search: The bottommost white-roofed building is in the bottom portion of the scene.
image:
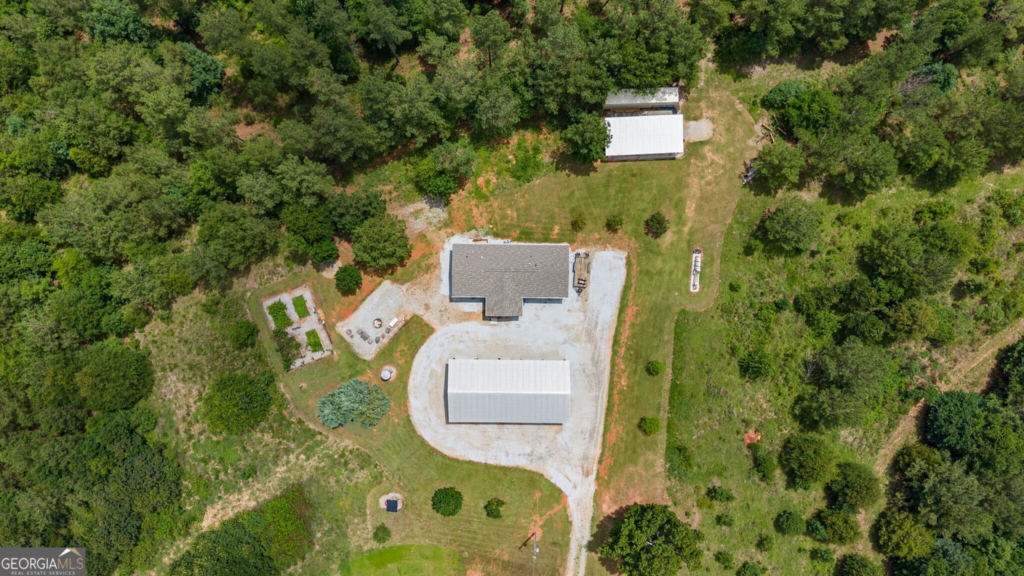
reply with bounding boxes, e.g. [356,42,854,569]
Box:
[447,356,572,425]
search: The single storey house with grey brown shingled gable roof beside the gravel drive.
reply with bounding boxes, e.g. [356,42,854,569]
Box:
[451,243,570,323]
